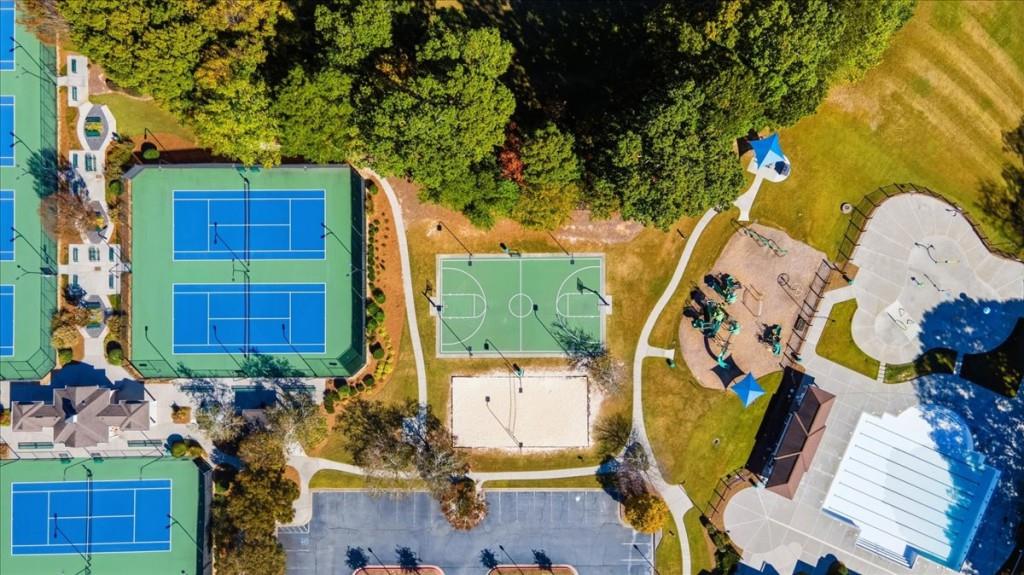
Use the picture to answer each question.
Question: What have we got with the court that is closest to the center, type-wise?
basketball court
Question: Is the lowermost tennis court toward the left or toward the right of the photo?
left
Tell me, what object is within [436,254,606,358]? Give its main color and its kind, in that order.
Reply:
green basketball court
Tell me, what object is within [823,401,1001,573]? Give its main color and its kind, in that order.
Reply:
white swimming pool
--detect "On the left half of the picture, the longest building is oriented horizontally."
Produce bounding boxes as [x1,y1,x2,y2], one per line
[11,386,158,448]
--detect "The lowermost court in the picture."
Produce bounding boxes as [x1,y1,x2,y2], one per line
[0,460,204,575]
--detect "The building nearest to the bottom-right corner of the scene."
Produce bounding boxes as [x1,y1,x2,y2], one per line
[761,386,836,499]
